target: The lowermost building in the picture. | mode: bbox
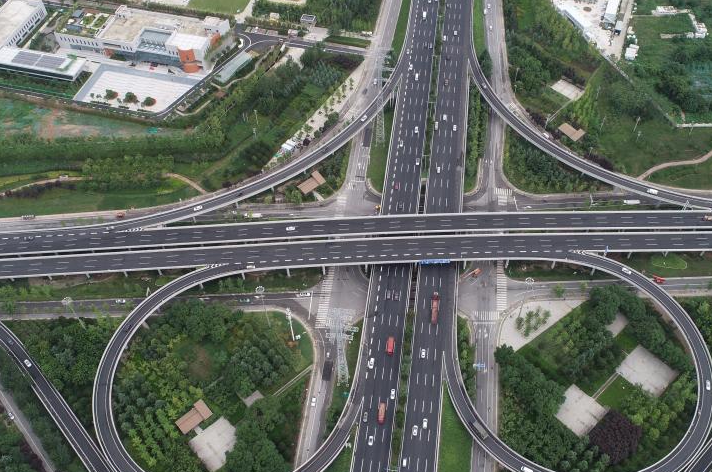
[176,400,212,437]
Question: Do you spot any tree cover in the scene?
Yes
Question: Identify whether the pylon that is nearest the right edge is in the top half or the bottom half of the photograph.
top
